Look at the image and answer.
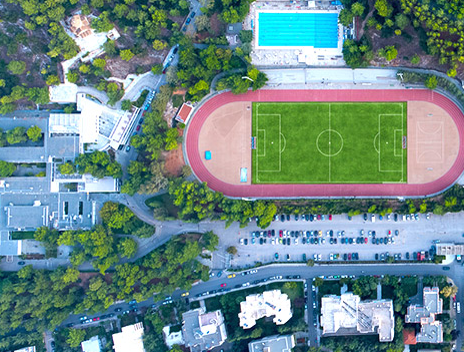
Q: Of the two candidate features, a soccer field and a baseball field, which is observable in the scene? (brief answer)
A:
soccer field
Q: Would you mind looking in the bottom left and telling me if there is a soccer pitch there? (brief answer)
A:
No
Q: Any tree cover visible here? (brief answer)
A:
Yes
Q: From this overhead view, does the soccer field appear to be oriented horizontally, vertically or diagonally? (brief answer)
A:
horizontally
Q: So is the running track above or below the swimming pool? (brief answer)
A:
below it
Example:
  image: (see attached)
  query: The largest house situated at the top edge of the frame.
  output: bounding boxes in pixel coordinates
[60,14,109,61]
